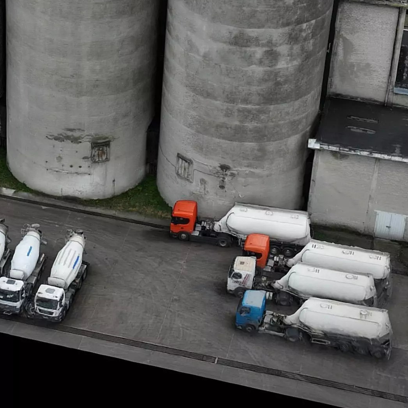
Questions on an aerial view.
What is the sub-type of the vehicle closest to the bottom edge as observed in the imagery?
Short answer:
truck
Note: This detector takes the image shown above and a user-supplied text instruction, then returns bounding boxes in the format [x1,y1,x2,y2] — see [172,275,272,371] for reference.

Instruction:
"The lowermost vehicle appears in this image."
[231,287,392,358]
